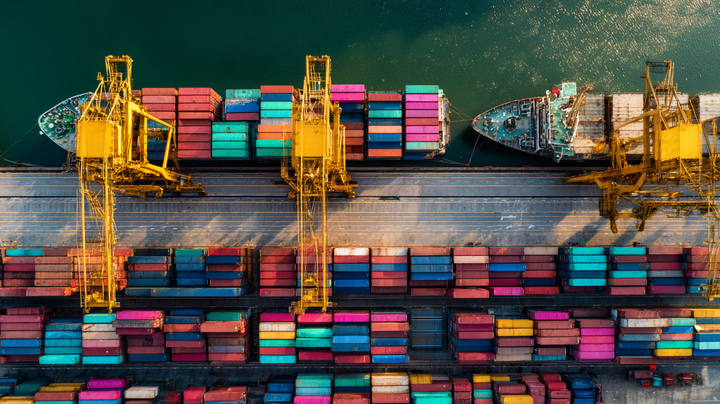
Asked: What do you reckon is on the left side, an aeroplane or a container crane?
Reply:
container crane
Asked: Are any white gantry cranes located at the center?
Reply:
No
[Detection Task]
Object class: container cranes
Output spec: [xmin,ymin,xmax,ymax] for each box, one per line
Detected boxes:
[562,60,720,311]
[284,60,364,311]
[73,60,212,311]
